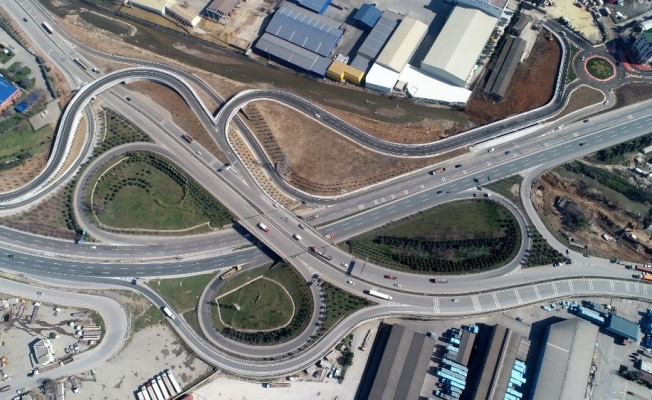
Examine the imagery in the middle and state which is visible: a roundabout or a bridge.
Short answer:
bridge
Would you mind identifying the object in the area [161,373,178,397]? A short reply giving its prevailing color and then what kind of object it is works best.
white vehicle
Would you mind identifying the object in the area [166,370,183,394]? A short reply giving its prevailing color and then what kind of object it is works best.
white vehicle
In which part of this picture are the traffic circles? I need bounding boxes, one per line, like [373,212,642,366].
[574,47,627,89]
